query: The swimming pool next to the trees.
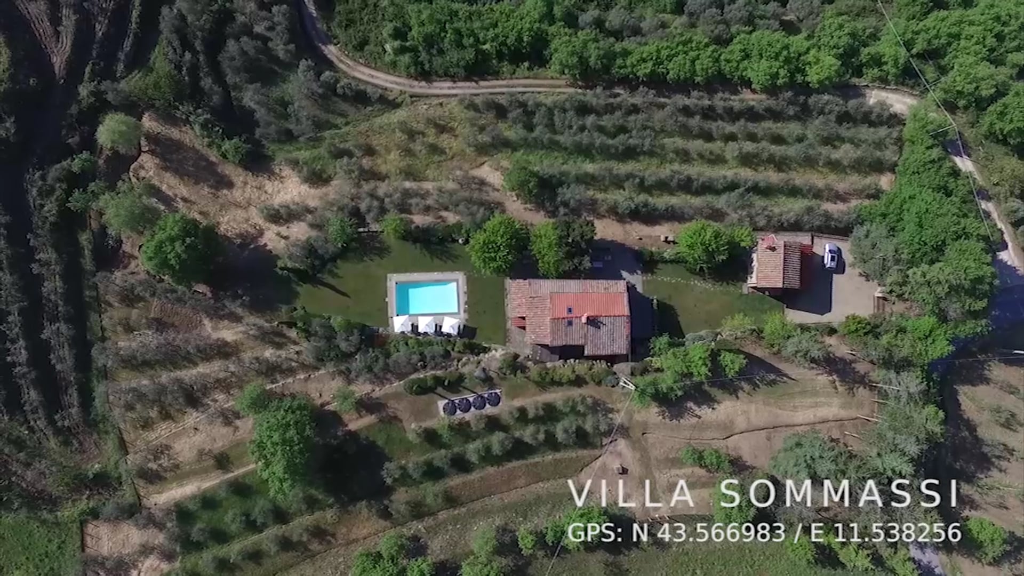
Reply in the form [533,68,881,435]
[387,272,468,335]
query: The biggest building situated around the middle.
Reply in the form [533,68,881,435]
[509,279,632,356]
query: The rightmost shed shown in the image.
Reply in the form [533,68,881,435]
[753,240,814,289]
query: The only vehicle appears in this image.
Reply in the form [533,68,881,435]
[823,243,838,271]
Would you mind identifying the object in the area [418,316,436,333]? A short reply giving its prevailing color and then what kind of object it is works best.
white umbrella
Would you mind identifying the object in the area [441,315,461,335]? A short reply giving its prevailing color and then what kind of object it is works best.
white umbrella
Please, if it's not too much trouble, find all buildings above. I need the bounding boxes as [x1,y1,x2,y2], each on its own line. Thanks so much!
[753,240,814,289]
[509,279,632,356]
